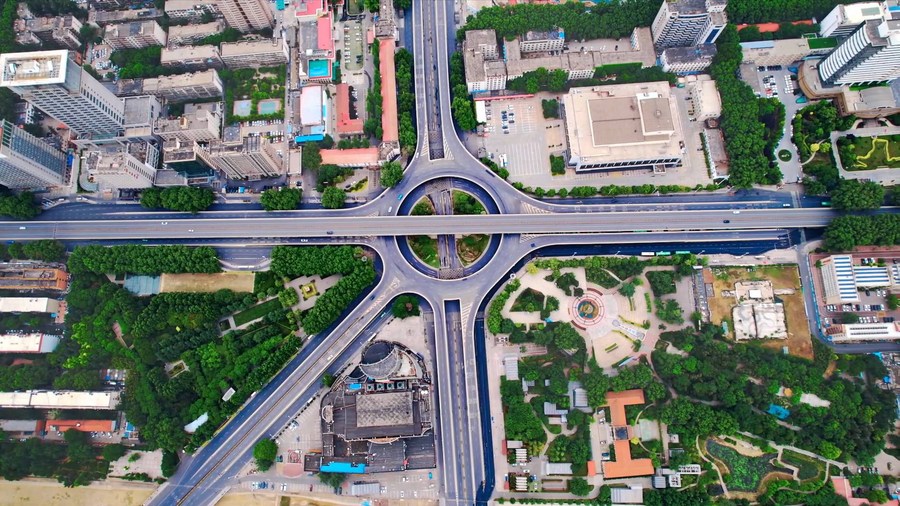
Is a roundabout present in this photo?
Yes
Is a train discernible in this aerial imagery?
No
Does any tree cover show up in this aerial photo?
Yes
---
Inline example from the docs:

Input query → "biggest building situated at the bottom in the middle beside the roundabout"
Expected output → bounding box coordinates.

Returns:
[305,336,436,471]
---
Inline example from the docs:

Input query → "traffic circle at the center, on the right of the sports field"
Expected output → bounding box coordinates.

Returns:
[330,131,576,330]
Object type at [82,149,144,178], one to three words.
building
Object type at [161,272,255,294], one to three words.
sports field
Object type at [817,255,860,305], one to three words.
building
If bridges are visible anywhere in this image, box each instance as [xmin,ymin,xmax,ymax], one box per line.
[0,206,899,240]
